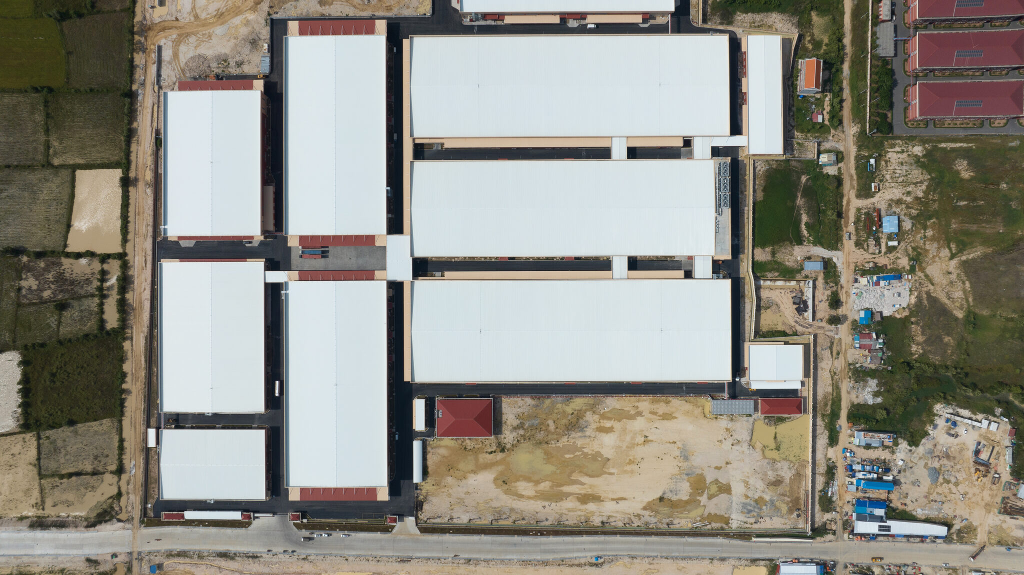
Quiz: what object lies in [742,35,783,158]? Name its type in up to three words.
building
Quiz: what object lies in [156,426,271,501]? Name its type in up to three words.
building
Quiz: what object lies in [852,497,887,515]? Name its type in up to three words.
house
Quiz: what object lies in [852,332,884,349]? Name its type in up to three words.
house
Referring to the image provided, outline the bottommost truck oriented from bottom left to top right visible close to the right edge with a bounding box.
[969,539,991,562]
